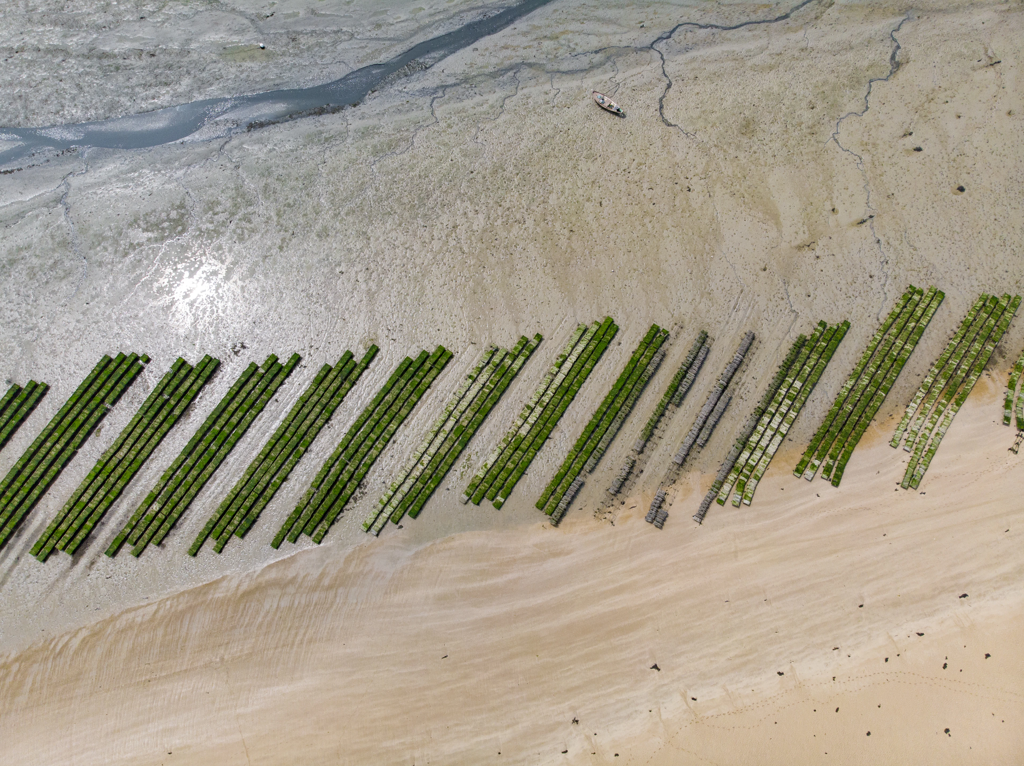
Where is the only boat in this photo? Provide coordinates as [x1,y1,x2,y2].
[591,88,624,114]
